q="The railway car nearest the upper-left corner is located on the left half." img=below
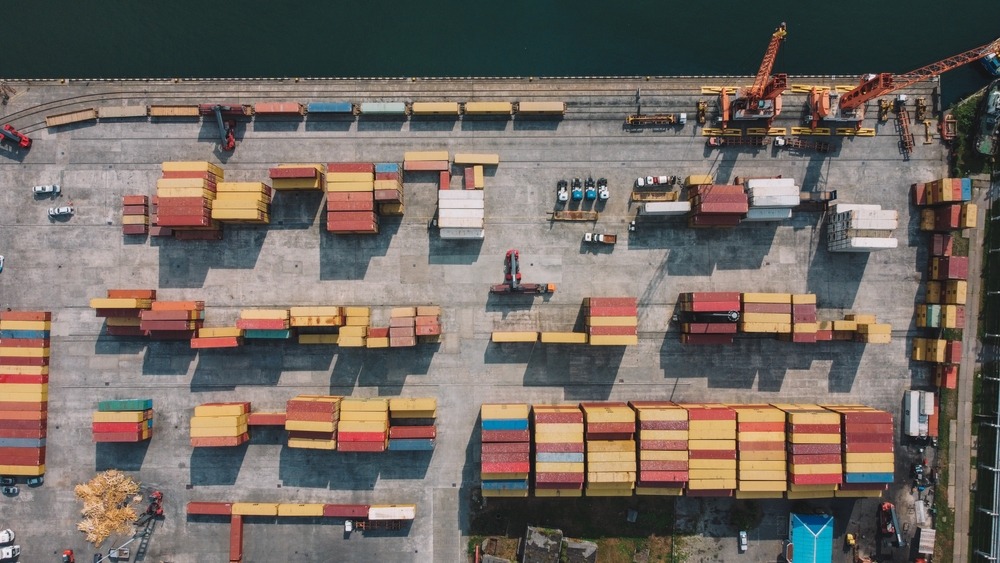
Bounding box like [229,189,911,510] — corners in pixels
[45,107,98,128]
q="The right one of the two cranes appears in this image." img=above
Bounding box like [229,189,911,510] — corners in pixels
[791,36,1000,136]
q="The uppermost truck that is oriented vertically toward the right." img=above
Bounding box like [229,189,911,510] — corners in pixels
[896,95,920,158]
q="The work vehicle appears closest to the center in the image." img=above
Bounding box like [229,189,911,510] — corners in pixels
[506,249,521,290]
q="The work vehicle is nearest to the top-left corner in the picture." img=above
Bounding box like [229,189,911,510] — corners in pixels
[0,123,30,148]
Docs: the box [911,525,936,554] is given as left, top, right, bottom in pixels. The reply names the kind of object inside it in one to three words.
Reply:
shed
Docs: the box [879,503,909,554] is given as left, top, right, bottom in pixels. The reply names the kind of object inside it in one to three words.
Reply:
work vehicle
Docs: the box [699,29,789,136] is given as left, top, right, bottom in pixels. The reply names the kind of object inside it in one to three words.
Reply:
crane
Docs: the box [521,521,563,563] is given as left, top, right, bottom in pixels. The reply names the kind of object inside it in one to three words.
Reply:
house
